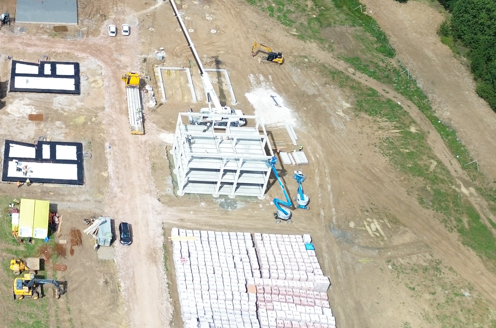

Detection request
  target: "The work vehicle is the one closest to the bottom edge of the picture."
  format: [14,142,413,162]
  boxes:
[12,273,63,300]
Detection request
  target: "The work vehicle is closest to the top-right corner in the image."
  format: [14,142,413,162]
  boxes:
[250,41,284,66]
